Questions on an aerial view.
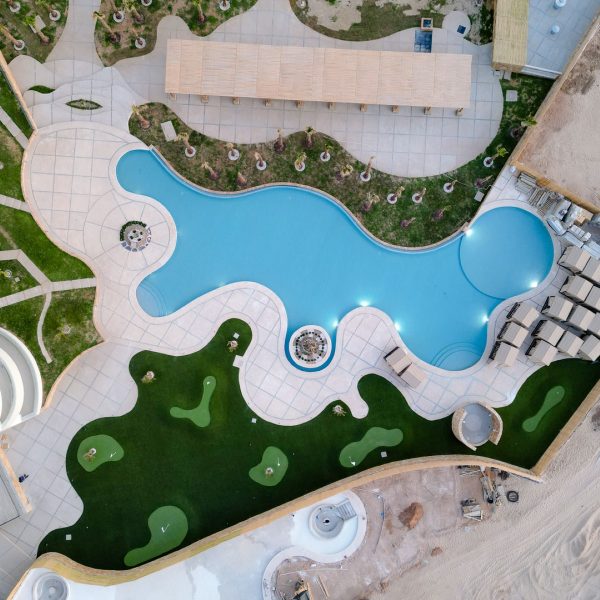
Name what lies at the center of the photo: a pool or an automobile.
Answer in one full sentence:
It is a pool that can be seen at the center of the photo.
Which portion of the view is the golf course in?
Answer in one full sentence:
The golf course appears toward the bottom of the photo.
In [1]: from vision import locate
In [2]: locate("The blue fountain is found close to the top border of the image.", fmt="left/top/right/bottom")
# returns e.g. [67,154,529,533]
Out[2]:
[415,15,434,52]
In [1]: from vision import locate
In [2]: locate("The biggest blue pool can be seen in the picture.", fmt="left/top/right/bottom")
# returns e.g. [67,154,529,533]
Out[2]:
[108,142,562,380]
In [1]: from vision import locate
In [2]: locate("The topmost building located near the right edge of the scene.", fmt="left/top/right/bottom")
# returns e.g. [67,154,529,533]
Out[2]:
[490,0,600,81]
